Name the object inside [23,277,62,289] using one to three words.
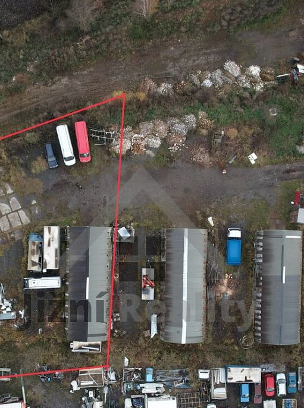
vehicle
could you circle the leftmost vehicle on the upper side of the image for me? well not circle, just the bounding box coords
[43,143,60,169]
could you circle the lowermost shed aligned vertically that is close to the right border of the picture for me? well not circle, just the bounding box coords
[253,230,302,347]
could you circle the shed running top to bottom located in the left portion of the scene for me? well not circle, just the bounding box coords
[63,226,113,343]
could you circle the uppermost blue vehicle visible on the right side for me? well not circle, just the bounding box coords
[226,227,242,265]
